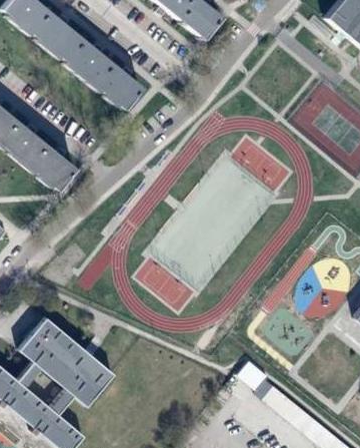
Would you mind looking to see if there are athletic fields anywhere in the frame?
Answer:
Yes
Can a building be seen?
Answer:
Yes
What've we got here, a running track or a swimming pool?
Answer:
running track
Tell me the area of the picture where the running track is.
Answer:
center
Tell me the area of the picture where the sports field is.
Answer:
center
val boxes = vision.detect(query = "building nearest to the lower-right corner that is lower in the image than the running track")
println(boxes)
[261,386,346,448]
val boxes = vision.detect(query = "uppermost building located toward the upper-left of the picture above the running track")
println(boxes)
[0,0,147,112]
